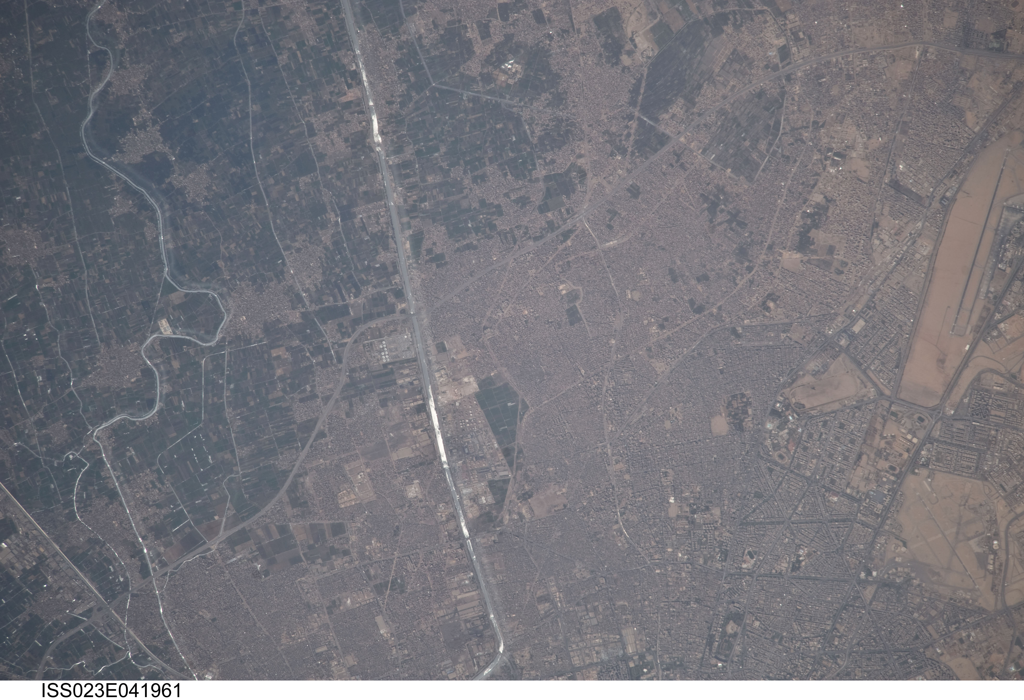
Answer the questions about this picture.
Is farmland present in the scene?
Yes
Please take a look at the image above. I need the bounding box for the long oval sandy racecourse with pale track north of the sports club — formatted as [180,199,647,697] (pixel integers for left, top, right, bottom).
[789,372,858,412]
